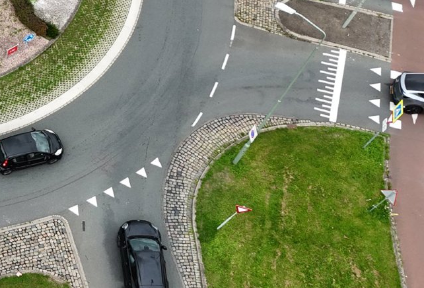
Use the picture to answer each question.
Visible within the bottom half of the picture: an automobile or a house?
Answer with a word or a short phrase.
automobile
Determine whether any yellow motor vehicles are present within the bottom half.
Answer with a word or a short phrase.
No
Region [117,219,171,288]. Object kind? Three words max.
car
